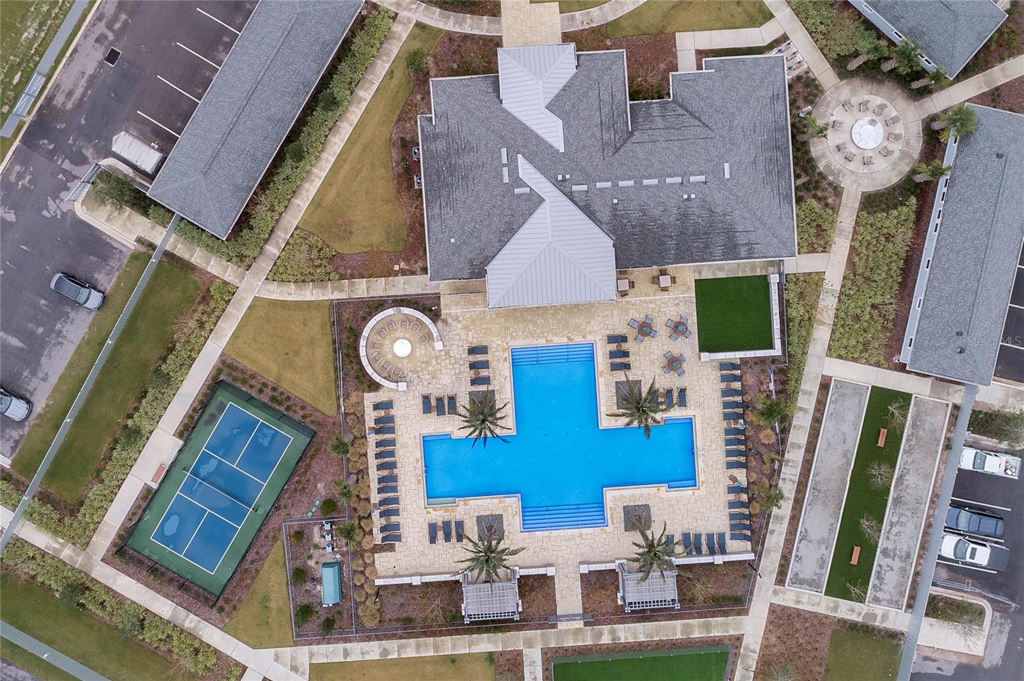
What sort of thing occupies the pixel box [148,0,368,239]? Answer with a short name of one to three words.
building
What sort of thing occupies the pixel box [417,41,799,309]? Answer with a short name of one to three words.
building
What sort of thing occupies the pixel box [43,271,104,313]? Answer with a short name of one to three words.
car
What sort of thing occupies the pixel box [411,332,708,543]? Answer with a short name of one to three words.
swimming pool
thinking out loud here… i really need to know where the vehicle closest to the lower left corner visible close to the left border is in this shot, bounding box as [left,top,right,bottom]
[0,384,31,421]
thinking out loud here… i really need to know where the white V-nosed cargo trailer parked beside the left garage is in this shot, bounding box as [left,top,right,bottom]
[101,132,160,171]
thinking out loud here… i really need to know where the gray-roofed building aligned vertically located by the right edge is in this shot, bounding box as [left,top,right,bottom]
[898,105,1024,388]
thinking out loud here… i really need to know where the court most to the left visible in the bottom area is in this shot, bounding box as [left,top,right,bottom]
[125,384,309,598]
